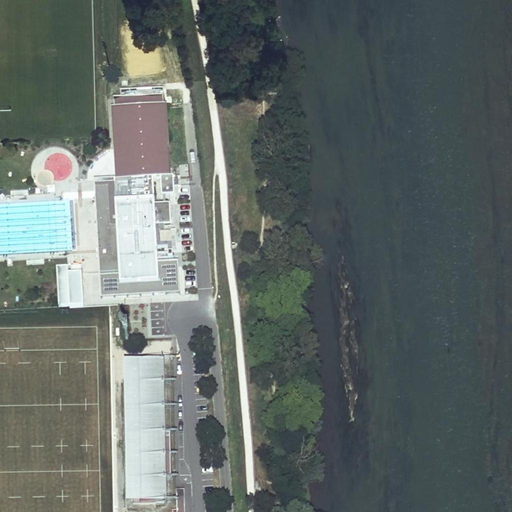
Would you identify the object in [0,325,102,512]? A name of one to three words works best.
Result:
sports field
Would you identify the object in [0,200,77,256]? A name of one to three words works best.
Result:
swimming pool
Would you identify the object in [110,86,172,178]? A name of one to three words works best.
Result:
building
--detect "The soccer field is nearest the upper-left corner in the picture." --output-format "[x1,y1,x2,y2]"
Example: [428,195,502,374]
[0,0,97,127]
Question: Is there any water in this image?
Yes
